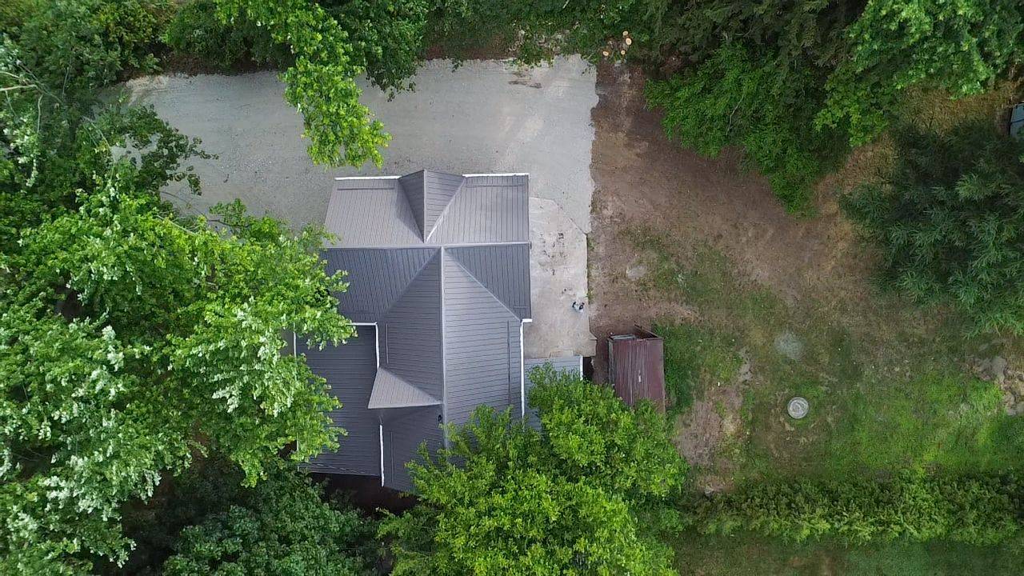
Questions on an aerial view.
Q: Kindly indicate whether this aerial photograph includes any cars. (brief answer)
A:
No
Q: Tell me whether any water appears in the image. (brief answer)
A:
No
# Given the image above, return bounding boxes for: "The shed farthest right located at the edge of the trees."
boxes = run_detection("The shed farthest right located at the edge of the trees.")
[608,319,666,417]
